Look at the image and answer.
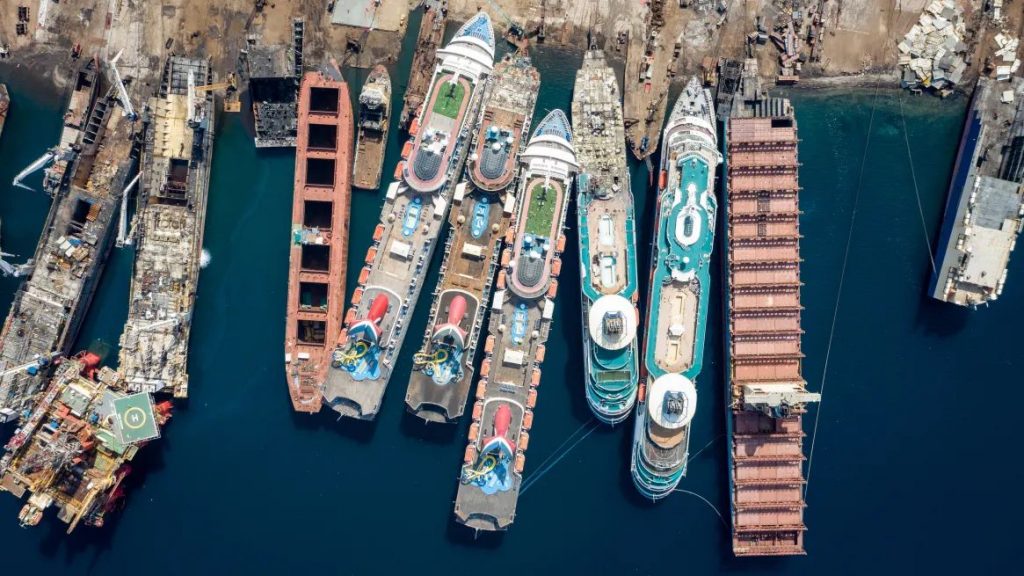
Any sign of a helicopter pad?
Yes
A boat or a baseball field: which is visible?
boat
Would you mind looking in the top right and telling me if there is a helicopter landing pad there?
No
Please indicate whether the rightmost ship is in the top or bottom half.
top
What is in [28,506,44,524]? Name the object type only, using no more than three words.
boat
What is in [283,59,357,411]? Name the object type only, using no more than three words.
ship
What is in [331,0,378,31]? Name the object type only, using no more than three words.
shed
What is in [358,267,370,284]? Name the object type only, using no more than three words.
boat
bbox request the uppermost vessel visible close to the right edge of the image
[926,77,1024,306]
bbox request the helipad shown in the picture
[111,389,165,446]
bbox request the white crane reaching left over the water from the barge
[13,148,67,192]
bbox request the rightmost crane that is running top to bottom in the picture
[184,68,199,129]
